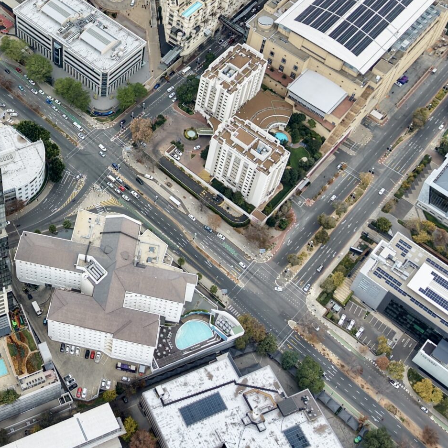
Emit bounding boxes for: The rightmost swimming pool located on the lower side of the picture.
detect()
[176,320,214,349]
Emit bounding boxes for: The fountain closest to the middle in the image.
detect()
[179,124,202,143]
